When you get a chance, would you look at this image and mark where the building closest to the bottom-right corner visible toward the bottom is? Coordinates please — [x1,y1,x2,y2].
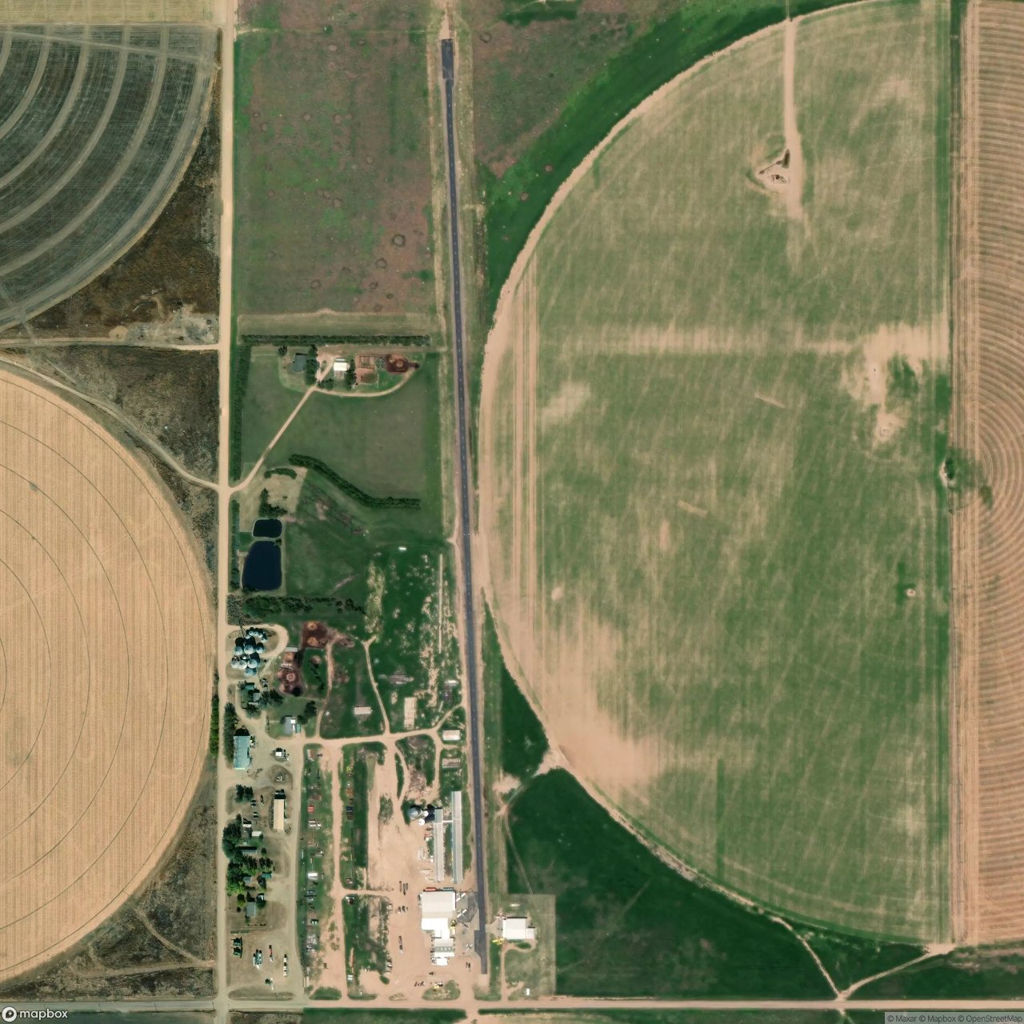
[503,919,534,939]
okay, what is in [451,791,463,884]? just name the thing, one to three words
house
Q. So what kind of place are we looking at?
farmland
